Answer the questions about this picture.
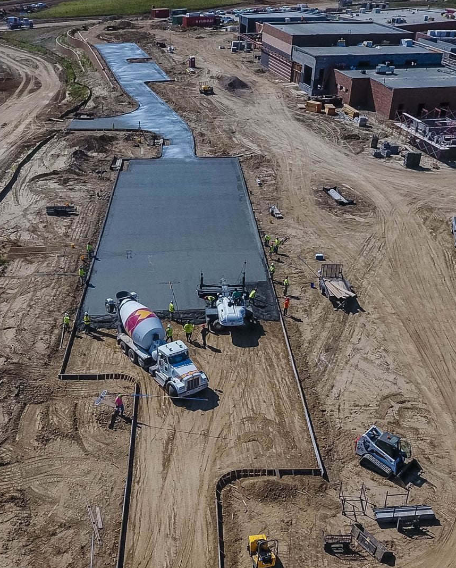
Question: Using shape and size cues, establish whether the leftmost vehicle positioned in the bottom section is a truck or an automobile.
truck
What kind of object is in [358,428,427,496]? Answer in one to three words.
work vehicle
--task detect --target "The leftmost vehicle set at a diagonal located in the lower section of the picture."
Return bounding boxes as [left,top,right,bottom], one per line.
[99,293,212,403]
